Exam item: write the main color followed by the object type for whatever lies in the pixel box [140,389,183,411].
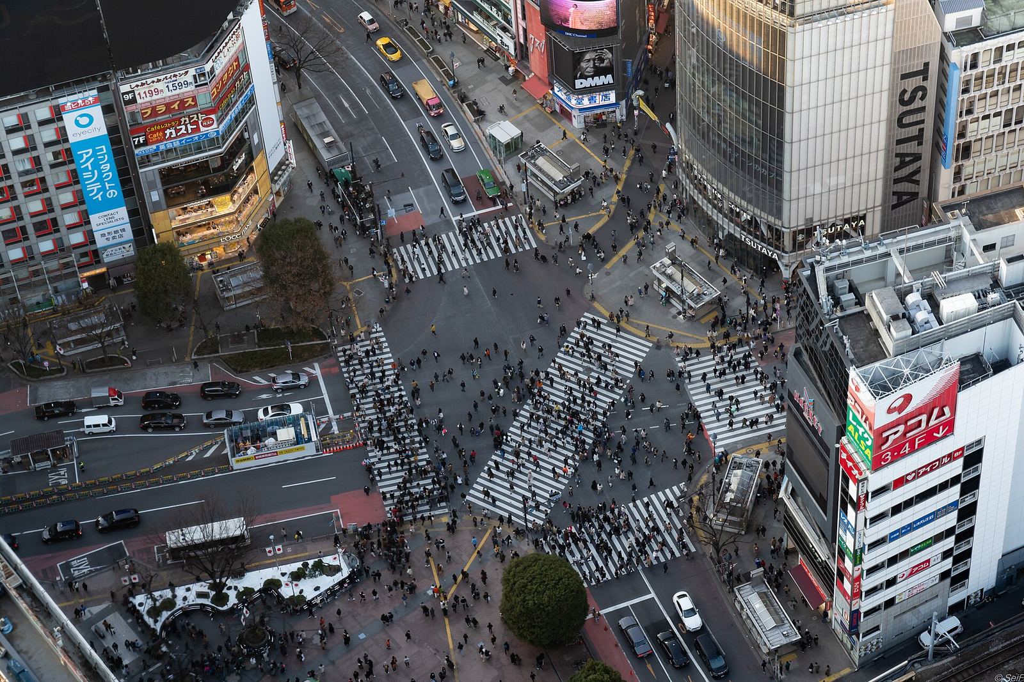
black car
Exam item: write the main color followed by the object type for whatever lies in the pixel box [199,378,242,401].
black car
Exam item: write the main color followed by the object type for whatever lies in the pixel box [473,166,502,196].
green car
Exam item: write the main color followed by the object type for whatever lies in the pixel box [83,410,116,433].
white vehicle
